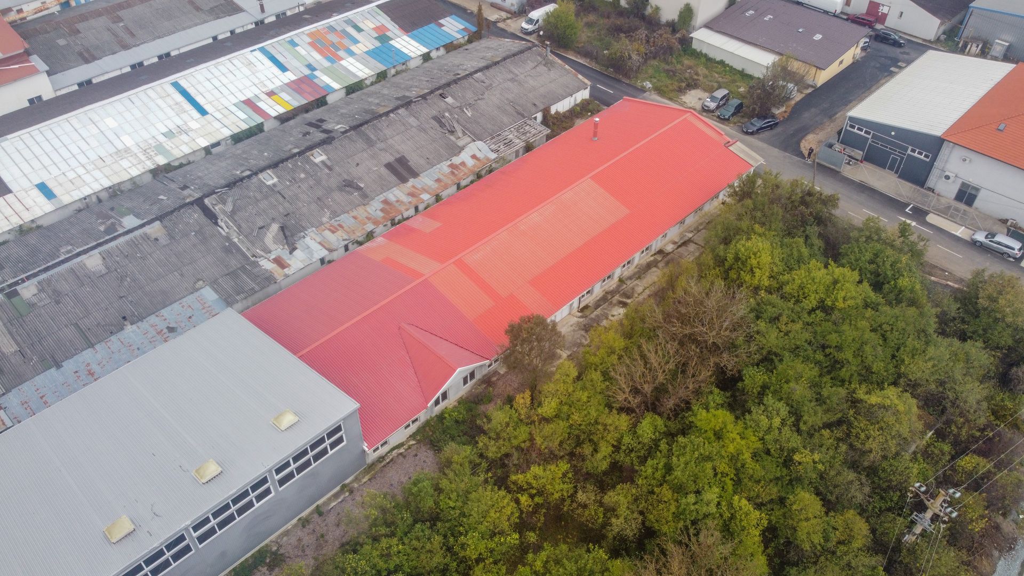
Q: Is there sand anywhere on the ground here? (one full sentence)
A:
No, sand can't be seen anywhere here.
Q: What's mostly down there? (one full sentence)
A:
For the most part, this view shows buildings.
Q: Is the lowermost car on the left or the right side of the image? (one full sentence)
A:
You can find the lowermost car on the right side of the picture.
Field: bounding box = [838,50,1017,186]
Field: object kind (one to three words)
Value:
building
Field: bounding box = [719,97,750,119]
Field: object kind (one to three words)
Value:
car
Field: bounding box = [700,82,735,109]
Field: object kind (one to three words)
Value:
car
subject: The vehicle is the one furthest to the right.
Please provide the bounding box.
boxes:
[973,230,1024,260]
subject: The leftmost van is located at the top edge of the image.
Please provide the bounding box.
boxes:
[527,0,559,31]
